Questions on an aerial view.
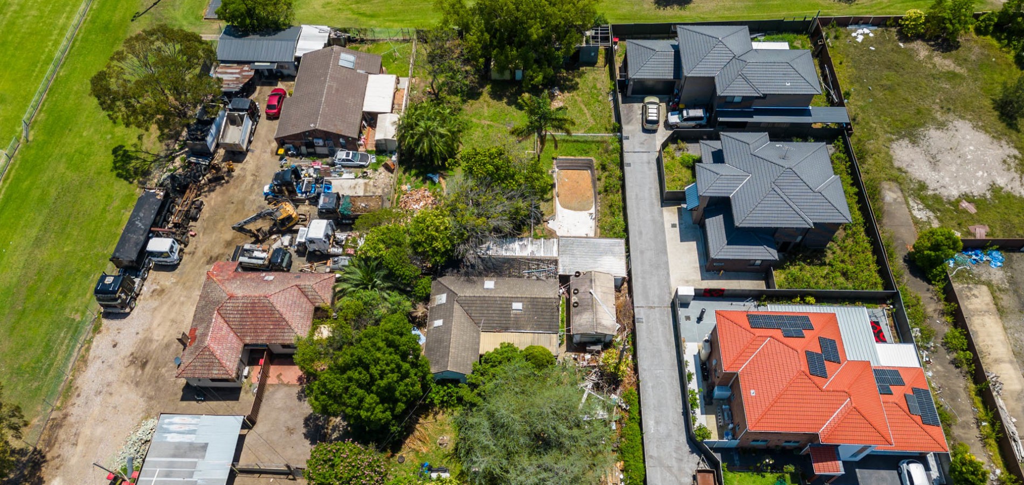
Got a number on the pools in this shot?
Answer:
1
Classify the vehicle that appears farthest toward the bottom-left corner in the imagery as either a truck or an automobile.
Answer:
truck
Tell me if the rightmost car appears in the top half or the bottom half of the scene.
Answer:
bottom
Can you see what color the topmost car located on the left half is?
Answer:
red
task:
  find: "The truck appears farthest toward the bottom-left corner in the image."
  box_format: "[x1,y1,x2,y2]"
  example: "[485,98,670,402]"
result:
[90,254,152,316]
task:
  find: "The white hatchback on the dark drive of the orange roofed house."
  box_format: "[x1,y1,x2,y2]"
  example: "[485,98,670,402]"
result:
[901,453,933,485]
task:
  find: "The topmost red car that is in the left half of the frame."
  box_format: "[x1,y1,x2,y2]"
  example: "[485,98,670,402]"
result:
[264,86,287,117]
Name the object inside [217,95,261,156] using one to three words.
truck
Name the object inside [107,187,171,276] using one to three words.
trailer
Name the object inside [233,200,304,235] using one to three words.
work vehicle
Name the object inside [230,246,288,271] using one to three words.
truck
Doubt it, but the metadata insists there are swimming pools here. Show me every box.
[549,158,602,246]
